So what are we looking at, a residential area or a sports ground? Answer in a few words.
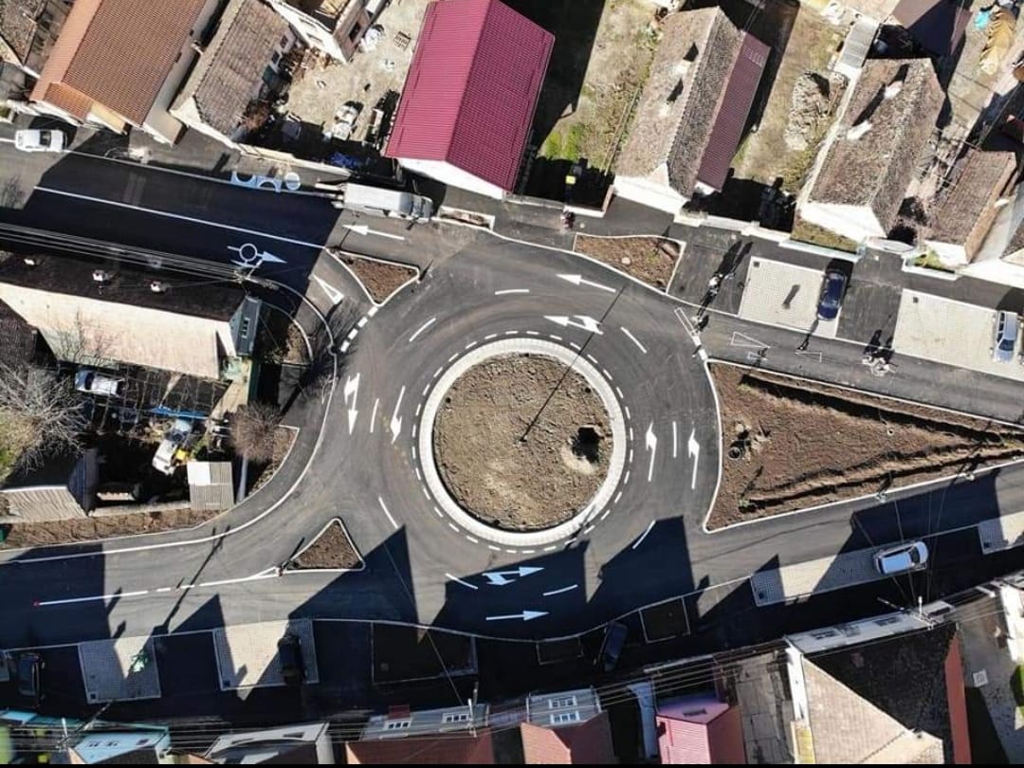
residential area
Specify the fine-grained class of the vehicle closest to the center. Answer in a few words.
truck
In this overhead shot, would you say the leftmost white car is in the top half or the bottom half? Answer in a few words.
top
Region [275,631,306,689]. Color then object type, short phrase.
black car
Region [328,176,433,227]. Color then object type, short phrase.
white truck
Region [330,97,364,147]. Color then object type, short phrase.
white car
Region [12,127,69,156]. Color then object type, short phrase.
white car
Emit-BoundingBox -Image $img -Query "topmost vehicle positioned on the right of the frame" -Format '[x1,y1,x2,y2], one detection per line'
[812,265,849,321]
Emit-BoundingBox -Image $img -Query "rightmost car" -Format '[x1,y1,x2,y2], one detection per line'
[986,308,1023,365]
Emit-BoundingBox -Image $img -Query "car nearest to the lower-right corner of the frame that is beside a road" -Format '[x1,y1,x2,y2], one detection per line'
[867,538,929,576]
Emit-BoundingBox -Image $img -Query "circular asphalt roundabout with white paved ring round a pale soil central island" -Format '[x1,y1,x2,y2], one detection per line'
[343,275,700,621]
